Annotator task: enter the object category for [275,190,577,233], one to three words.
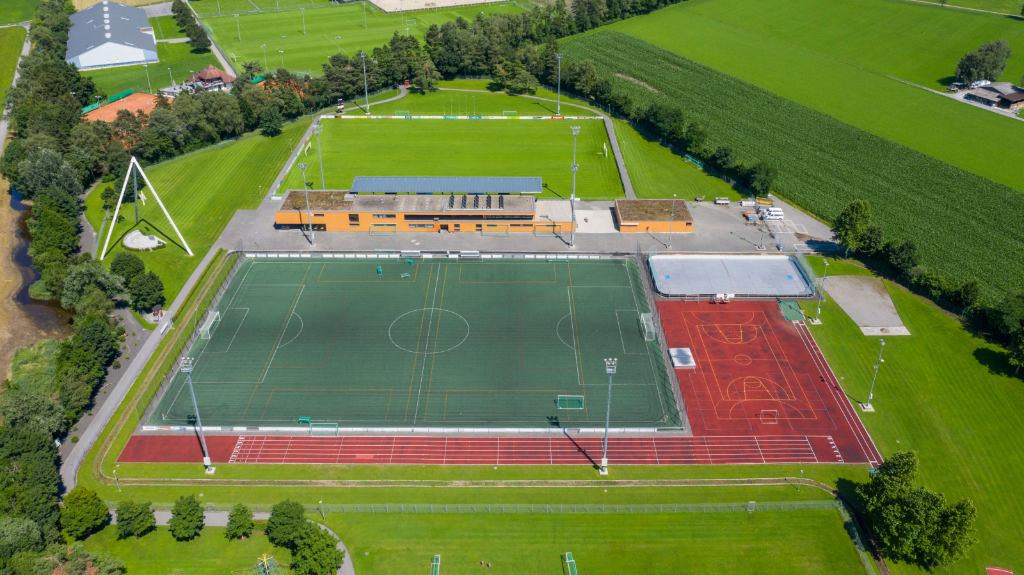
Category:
building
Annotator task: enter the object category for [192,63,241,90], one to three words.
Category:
building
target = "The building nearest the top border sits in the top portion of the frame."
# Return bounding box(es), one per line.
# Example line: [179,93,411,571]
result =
[66,1,161,70]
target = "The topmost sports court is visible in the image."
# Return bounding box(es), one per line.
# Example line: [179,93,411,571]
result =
[649,253,816,297]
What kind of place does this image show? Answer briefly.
sports ground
